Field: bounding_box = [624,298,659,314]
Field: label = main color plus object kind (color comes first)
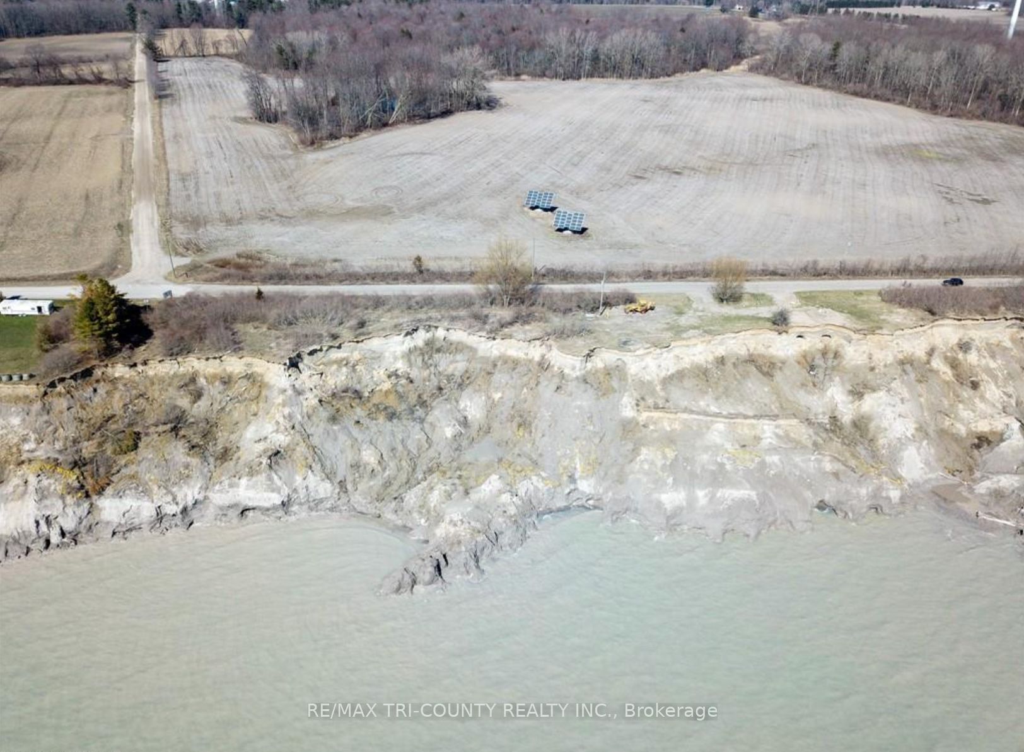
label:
yellow work vehicle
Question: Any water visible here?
Yes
